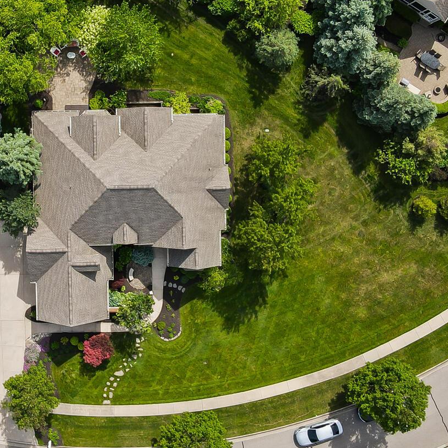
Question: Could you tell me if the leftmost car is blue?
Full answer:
No, the leftmost car is actually white.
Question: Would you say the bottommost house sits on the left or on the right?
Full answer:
You can find the bottommost house on the left side of the picture.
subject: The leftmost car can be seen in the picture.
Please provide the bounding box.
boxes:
[293,416,344,448]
